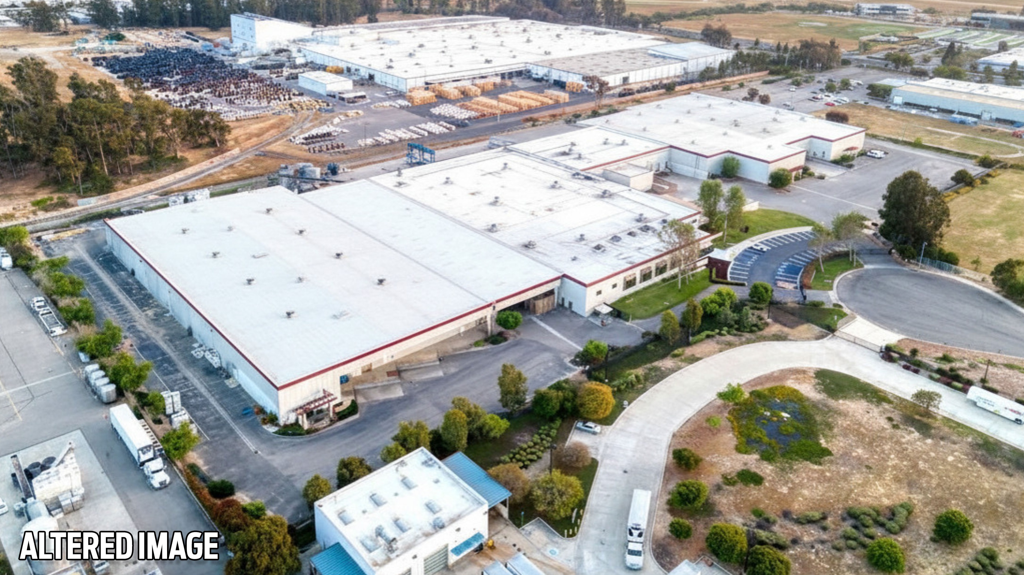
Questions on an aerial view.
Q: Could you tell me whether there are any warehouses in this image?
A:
Yes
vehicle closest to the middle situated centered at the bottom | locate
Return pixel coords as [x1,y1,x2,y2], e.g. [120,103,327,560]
[572,417,605,434]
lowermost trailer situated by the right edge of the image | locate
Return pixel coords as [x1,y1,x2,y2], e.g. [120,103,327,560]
[962,388,1024,432]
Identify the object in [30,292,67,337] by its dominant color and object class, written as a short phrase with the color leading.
white truck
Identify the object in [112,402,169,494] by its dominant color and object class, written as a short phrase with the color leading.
white truck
